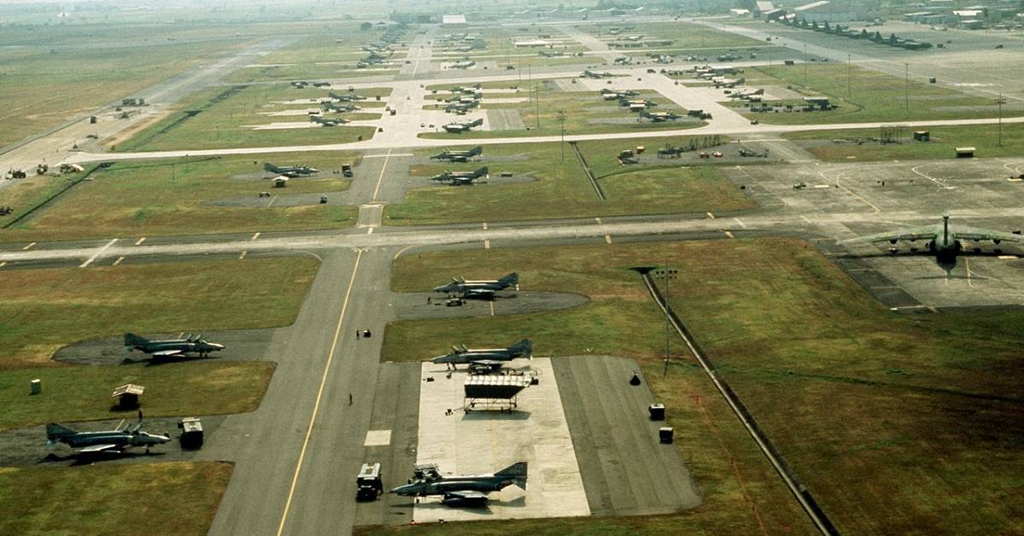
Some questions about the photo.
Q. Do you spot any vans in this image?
Yes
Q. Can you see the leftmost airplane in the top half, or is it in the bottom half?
bottom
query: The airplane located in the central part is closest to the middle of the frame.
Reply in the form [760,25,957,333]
[434,272,518,297]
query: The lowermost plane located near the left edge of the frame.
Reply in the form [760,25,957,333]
[42,425,170,460]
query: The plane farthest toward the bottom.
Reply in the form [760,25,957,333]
[389,463,528,507]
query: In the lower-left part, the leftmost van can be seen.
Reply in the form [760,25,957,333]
[176,413,205,442]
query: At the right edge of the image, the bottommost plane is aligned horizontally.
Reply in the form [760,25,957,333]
[830,218,1024,258]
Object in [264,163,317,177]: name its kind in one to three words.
airplane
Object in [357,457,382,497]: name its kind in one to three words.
truck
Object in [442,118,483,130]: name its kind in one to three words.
airplane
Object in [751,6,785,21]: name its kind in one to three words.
hangar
